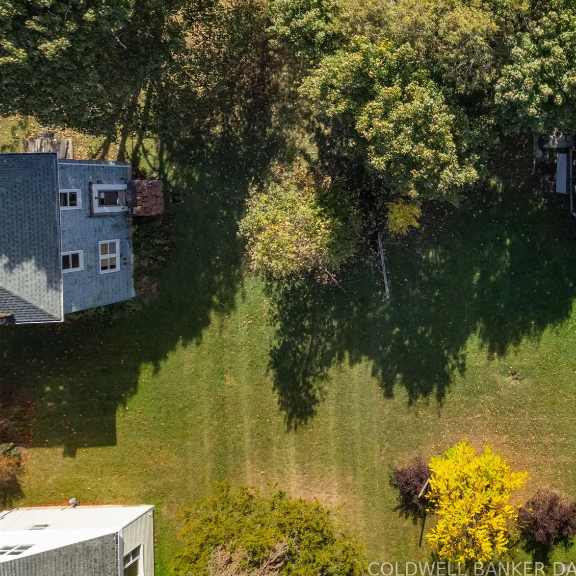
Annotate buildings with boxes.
[0,505,156,576]
[0,148,137,325]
